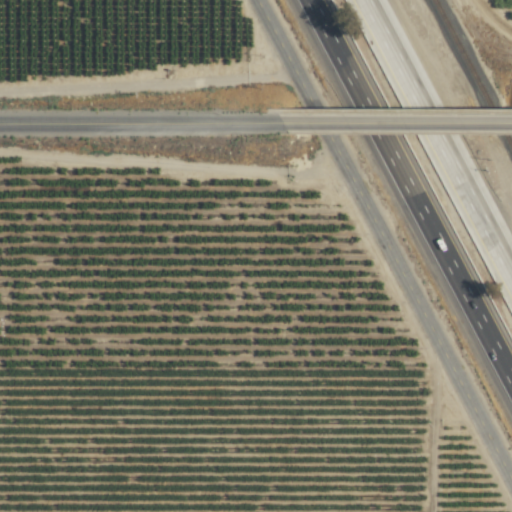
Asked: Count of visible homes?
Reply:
0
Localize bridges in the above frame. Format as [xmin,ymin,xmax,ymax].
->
[266,108,512,134]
